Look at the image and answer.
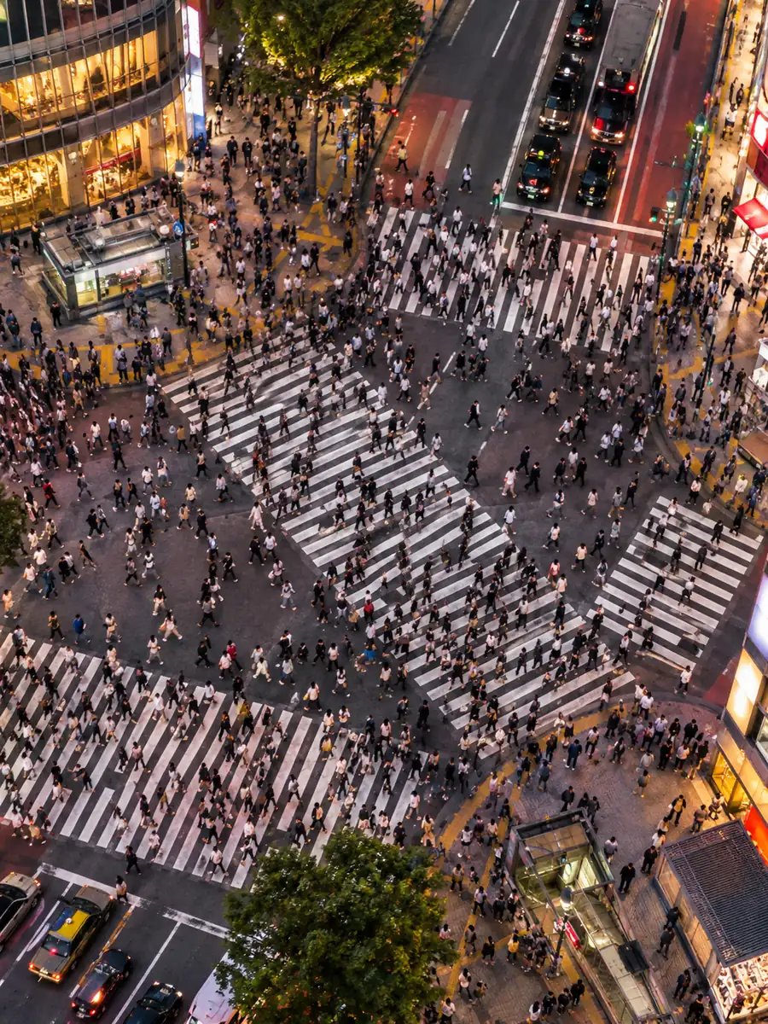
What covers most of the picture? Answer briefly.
paved ground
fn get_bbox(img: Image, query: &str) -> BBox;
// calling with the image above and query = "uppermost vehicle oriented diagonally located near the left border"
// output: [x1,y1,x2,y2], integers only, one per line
[23,885,112,982]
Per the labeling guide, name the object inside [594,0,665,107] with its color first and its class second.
gray bus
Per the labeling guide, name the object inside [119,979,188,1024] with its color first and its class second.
black car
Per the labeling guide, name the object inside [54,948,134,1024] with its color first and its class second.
black car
